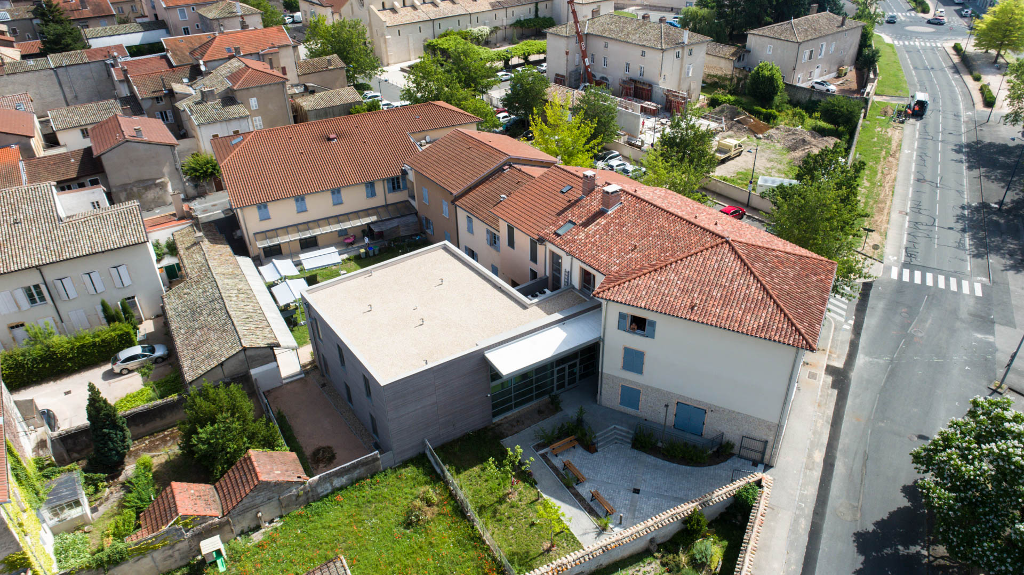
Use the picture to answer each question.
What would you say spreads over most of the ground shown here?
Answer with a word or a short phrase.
buildings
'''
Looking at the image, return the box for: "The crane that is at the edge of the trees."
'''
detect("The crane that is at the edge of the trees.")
[564,0,628,97]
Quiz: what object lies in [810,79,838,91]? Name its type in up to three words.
vehicle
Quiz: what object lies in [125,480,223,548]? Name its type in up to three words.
shed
